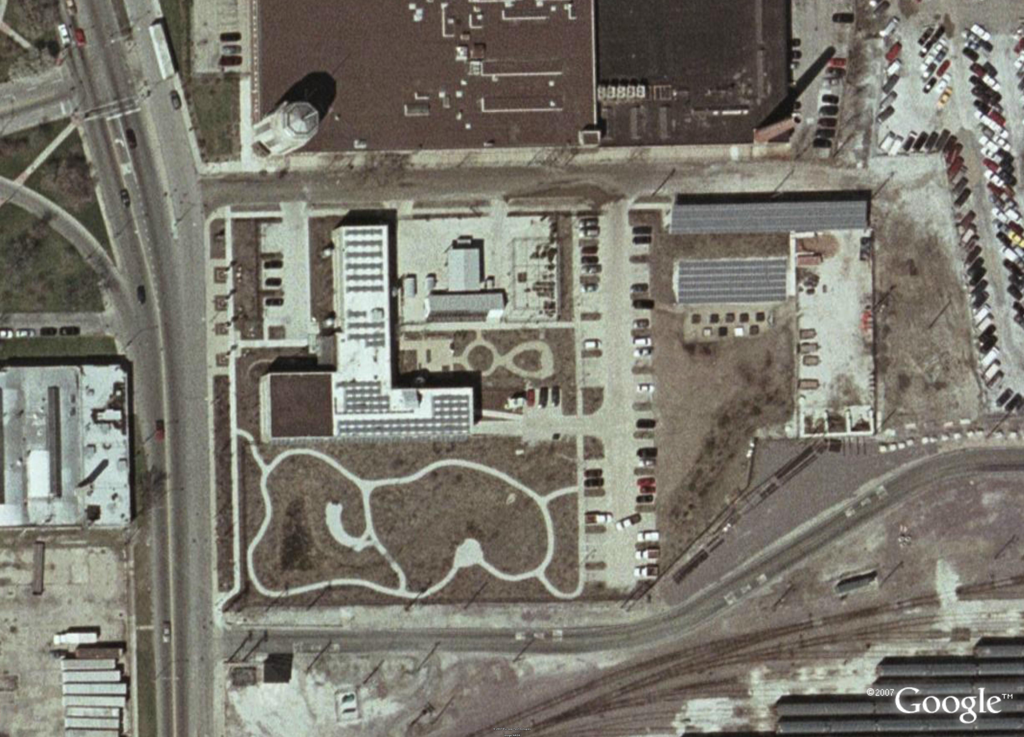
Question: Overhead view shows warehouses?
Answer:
Yes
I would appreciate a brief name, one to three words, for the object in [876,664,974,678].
rail car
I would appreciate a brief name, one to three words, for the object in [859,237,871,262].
vehicle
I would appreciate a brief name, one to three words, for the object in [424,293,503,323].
shed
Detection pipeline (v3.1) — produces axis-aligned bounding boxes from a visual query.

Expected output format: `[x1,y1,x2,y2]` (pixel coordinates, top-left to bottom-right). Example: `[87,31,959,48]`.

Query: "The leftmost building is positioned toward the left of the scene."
[0,365,83,528]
